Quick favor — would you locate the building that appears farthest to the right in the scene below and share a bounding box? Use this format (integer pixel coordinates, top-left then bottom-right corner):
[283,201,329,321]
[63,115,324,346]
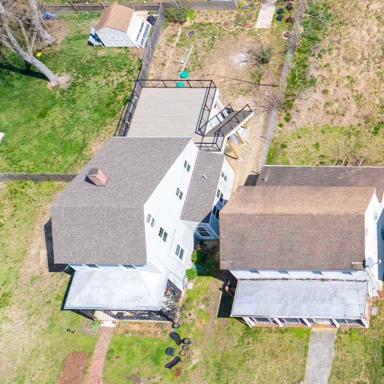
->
[218,166,384,328]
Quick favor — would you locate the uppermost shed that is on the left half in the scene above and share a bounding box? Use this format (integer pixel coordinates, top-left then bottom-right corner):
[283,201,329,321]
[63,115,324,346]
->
[95,3,141,44]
